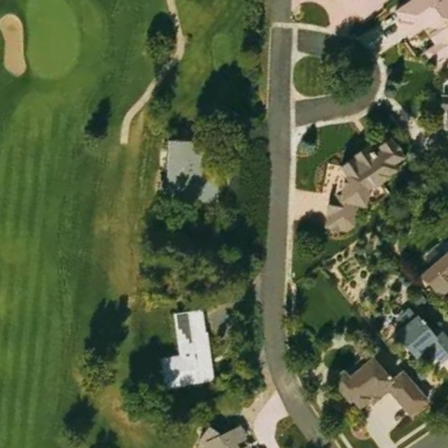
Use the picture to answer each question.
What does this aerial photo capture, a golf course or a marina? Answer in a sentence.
The picture captures a golf course.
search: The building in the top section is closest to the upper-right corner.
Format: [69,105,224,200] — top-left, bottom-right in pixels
[397,0,448,68]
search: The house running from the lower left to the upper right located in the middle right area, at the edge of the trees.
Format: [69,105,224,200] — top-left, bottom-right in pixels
[325,140,407,234]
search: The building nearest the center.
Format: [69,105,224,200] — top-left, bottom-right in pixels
[168,141,218,206]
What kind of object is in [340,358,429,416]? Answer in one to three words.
house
